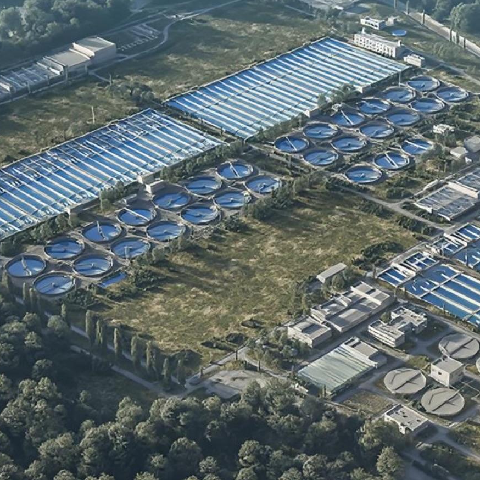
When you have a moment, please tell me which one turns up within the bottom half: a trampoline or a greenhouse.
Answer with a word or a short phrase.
greenhouse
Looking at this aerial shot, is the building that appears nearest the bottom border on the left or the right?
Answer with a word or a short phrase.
right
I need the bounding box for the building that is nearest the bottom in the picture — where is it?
[384,403,428,438]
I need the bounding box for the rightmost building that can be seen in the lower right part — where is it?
[431,355,464,386]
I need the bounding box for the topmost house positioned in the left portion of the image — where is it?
[42,35,115,78]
